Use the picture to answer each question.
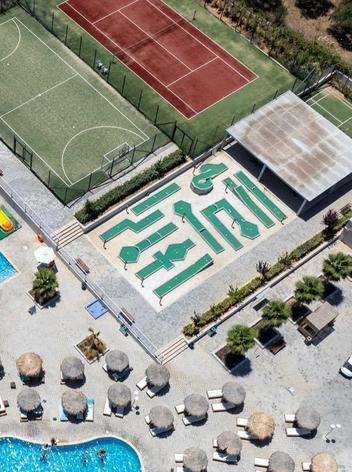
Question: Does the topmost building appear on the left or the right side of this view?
right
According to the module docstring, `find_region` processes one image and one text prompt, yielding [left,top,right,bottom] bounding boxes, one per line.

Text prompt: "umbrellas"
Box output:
[59,359,84,383]
[17,355,44,381]
[266,456,293,472]
[180,449,208,472]
[215,432,242,459]
[16,391,42,415]
[219,384,246,409]
[103,352,130,377]
[244,414,274,442]
[148,409,174,434]
[182,395,209,421]
[105,385,132,410]
[144,367,171,392]
[291,409,318,434]
[62,394,87,418]
[34,246,54,270]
